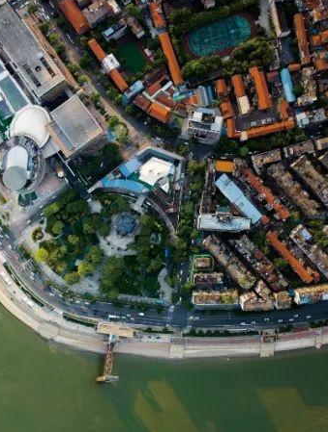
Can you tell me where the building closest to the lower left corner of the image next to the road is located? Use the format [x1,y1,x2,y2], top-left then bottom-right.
[96,323,134,336]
